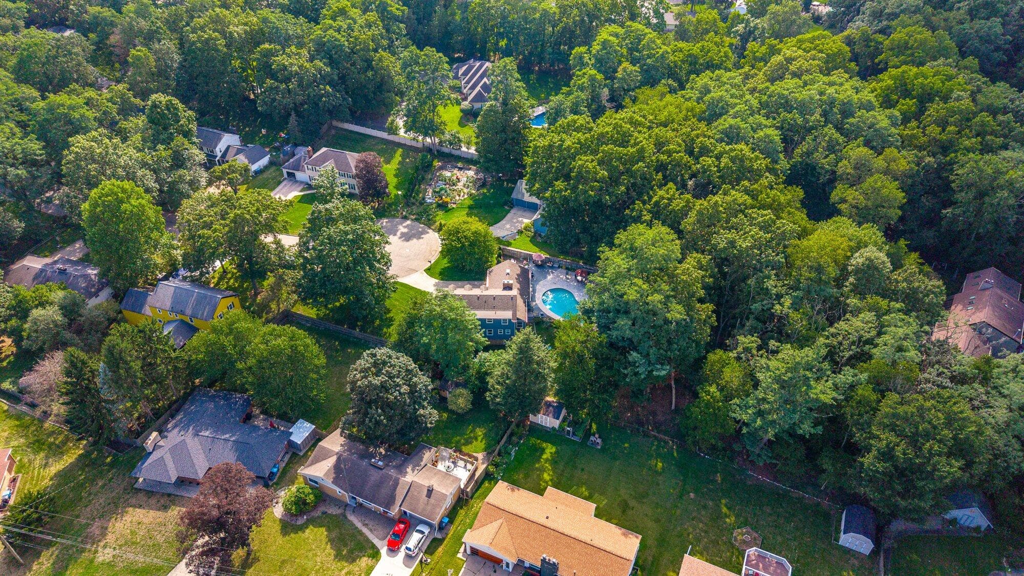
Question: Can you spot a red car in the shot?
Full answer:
Yes, there is a red car in the image.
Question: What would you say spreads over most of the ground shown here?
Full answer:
The bulk of the photo consists of trees.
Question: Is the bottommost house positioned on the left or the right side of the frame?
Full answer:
It is on the right.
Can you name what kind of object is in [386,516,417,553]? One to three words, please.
car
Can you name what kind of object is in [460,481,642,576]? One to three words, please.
house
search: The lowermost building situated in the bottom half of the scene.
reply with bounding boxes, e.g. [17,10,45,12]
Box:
[678,546,744,576]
